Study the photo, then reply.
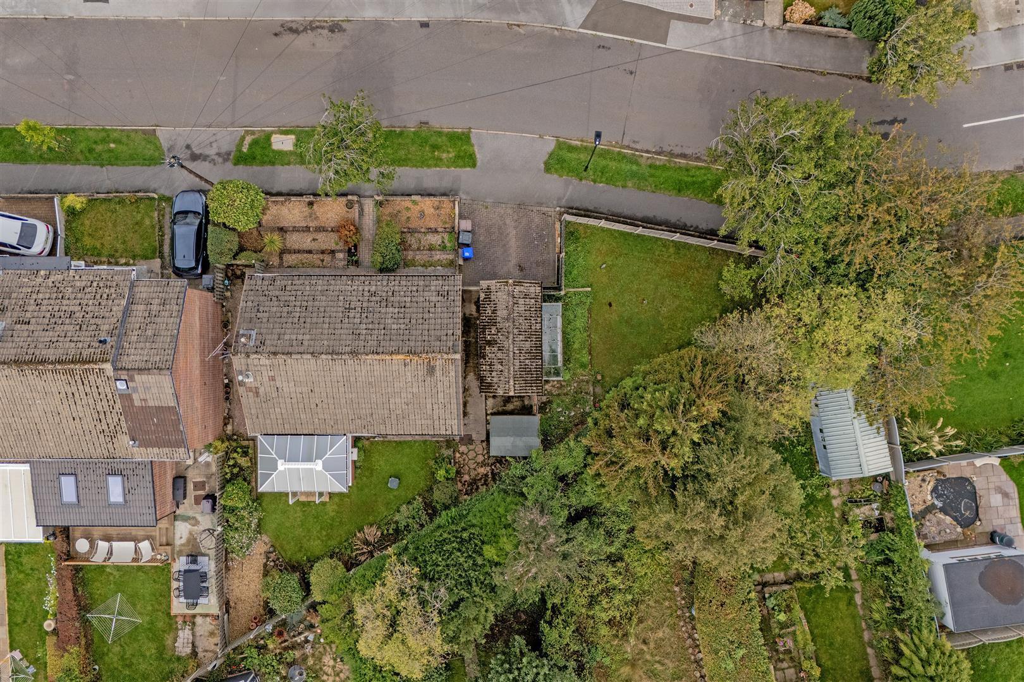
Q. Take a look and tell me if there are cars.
Yes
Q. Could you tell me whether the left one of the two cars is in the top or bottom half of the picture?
top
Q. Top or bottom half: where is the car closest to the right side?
top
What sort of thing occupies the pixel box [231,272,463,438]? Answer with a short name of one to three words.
house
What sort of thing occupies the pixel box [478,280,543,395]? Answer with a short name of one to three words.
building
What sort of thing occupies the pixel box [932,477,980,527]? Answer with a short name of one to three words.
pond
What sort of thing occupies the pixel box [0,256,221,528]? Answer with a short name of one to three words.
house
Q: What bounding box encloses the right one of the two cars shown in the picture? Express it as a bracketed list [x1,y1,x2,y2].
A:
[164,190,211,277]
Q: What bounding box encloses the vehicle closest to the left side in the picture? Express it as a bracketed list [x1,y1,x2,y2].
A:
[0,206,57,248]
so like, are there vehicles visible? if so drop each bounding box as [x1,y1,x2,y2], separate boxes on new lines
[0,206,57,248]
[164,190,211,277]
